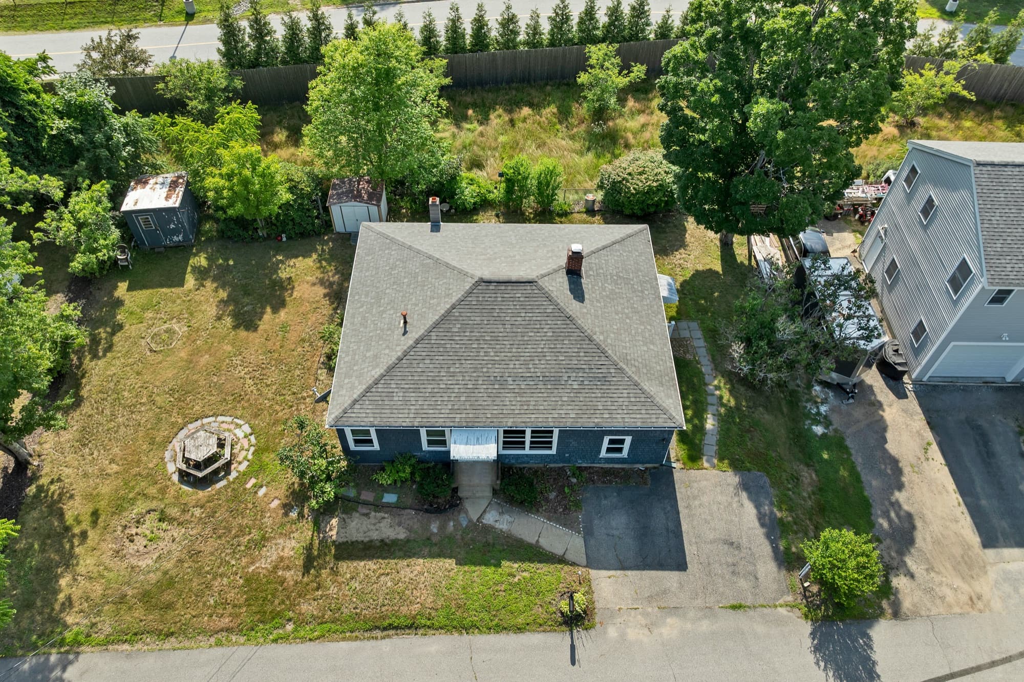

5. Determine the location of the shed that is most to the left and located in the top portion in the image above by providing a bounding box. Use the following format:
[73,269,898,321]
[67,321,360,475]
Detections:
[120,162,203,246]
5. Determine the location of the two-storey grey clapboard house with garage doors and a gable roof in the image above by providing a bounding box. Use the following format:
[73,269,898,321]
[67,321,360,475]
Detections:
[856,140,1024,388]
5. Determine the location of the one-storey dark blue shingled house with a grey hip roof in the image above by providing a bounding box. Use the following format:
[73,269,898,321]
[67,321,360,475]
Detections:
[321,194,682,507]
